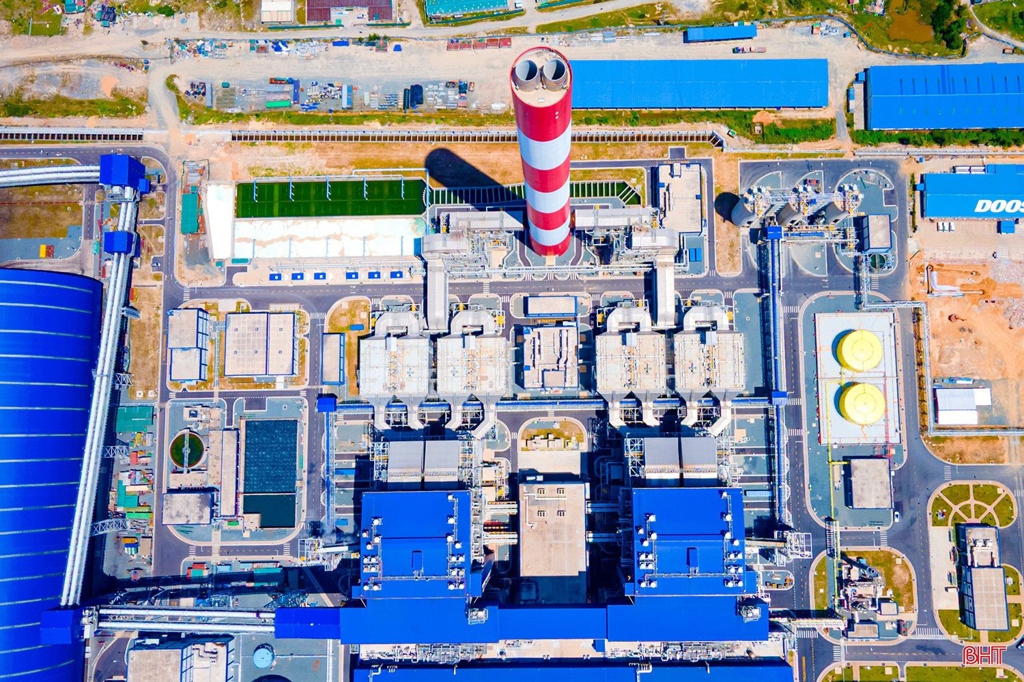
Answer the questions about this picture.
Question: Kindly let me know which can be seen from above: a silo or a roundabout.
silo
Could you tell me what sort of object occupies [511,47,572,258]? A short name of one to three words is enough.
chimney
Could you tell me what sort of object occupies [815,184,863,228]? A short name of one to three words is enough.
silo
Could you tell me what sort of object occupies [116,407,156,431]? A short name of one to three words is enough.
shed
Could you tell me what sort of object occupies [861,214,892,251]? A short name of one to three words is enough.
building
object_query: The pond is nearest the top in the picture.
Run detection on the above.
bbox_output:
[890,0,933,43]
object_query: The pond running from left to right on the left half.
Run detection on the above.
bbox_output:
[236,167,430,235]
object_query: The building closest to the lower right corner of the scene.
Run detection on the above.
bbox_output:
[960,565,1009,630]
